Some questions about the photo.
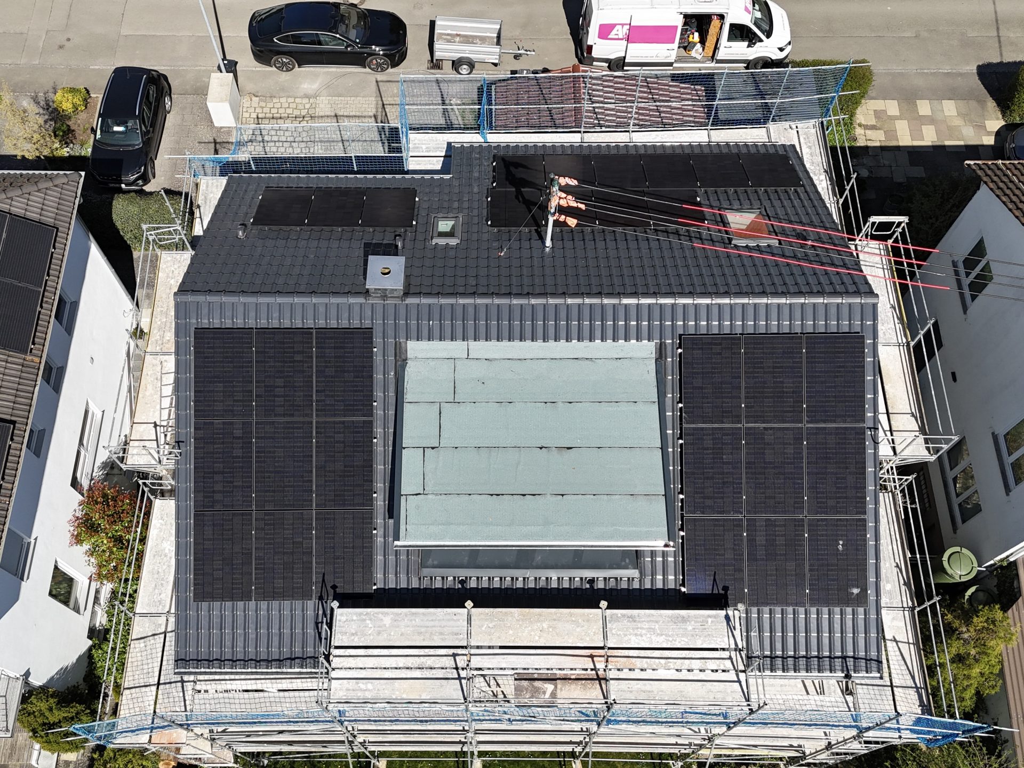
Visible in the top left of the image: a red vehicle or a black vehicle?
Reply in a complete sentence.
There is a black vehicle in the top left of the image.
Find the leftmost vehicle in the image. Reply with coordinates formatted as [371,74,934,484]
[83,58,170,198]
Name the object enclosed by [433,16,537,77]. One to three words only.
trailer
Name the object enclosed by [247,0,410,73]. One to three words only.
car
